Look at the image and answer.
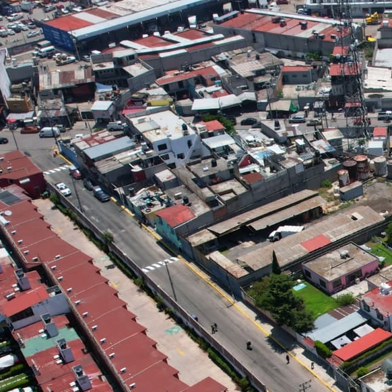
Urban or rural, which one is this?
urban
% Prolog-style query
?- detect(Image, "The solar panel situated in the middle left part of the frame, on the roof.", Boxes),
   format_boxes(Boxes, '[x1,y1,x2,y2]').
[0,185,24,205]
